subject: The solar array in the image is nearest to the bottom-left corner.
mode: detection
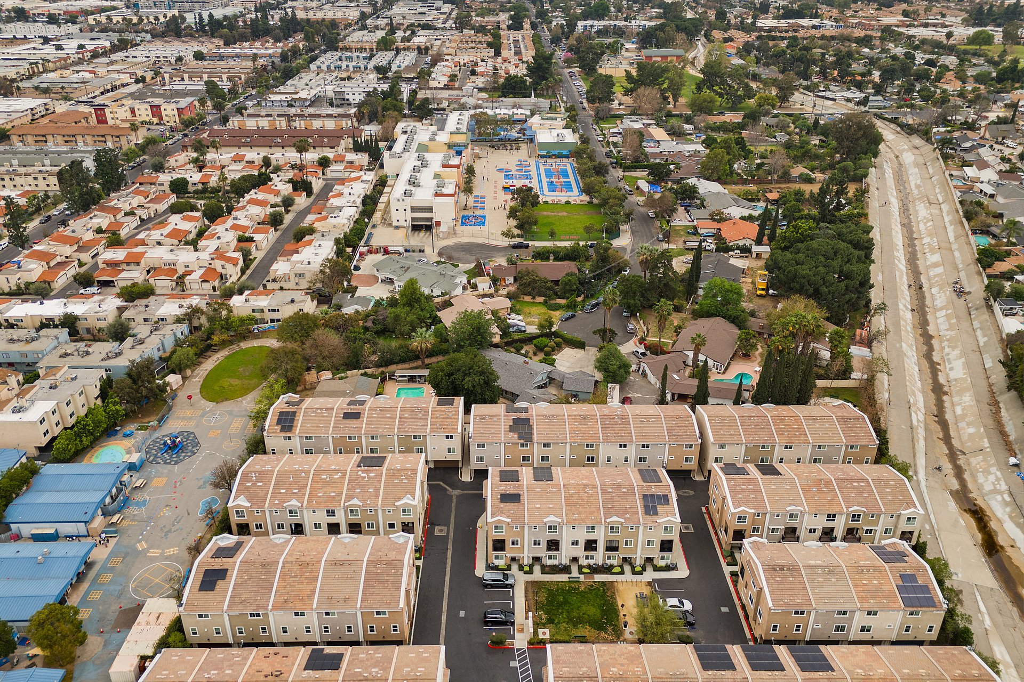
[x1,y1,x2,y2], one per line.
[194,567,228,594]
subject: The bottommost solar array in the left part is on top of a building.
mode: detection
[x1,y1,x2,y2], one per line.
[296,649,341,676]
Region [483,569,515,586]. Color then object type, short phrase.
gray car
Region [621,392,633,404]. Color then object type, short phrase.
red vehicle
